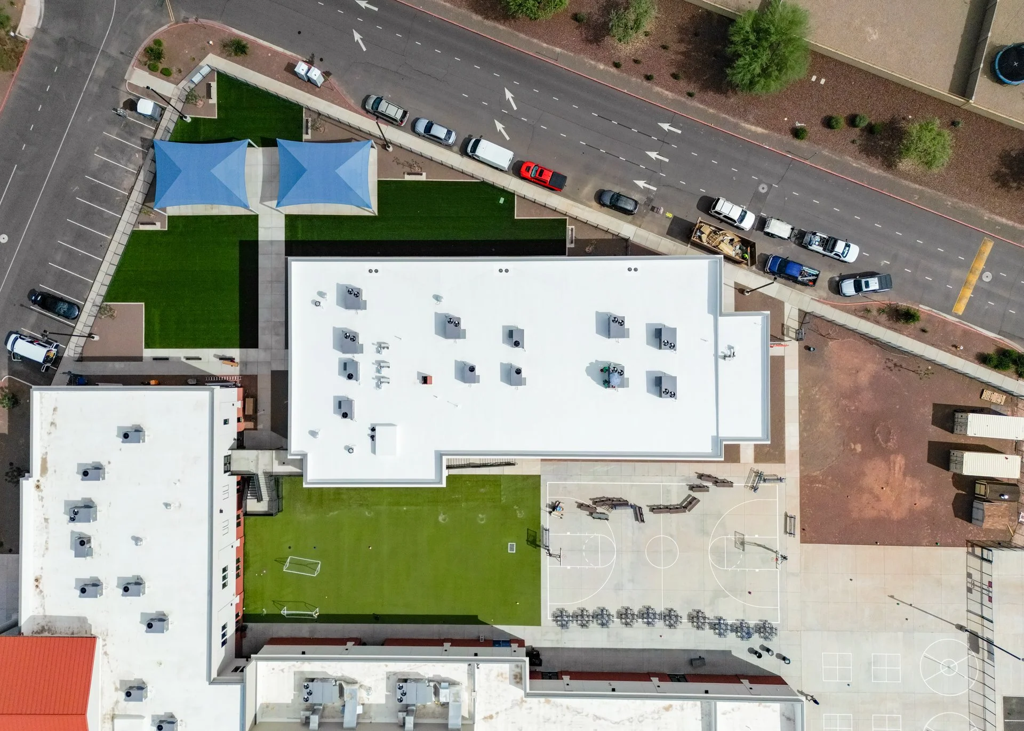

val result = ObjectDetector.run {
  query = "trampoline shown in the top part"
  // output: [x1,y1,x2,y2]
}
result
[992,42,1024,87]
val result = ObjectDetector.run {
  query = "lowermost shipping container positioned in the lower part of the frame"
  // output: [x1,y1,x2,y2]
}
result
[950,450,1021,479]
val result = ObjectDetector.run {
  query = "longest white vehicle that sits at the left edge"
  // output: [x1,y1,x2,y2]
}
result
[7,336,66,372]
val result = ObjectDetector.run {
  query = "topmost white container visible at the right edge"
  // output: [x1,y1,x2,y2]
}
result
[954,413,1024,440]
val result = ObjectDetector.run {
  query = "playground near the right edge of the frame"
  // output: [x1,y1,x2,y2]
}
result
[801,543,1024,731]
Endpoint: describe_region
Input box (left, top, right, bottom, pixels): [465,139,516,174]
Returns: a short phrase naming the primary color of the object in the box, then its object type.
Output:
white van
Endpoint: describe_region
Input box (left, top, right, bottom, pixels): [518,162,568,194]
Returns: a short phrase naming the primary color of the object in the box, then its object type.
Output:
red truck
